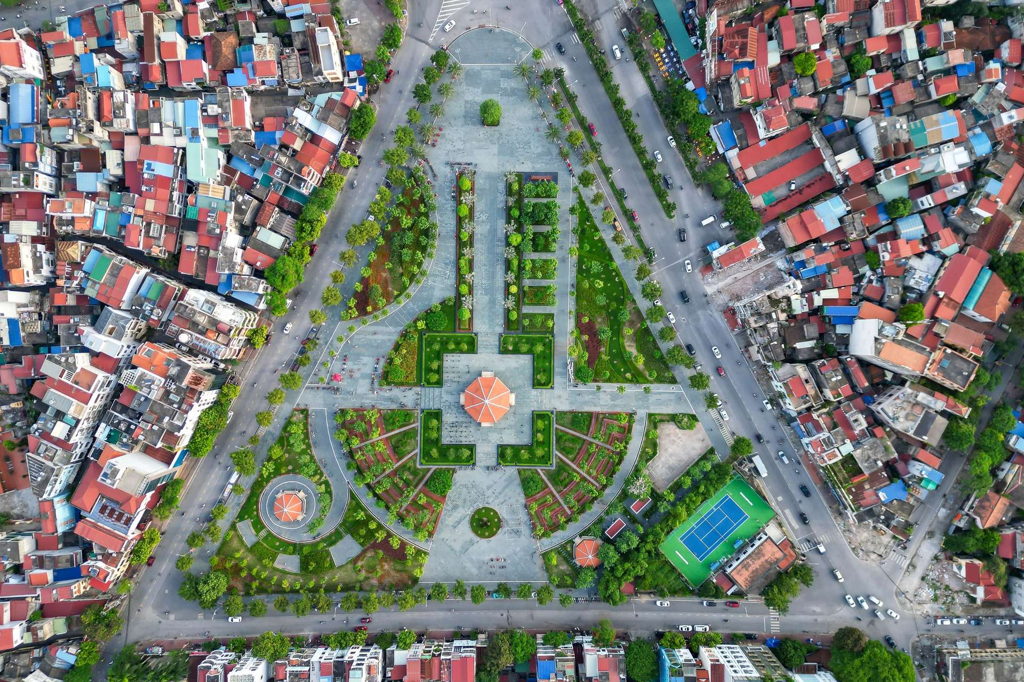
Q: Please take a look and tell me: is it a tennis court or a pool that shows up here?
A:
tennis court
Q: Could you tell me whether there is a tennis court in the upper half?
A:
No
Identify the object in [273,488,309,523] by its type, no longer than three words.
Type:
building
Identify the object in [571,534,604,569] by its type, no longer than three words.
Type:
building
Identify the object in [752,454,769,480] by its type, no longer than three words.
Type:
vehicle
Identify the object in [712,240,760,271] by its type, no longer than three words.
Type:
house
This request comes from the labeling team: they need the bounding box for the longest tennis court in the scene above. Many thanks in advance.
[659,474,776,588]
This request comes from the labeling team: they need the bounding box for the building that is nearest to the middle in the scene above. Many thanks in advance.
[460,371,516,427]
